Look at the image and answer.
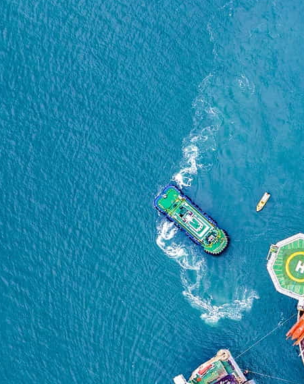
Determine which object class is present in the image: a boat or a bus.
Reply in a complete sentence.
The image shows a boat.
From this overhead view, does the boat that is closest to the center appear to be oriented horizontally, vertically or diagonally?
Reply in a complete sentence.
From this overhead view, the boat that is closest to the center appears to run diagonally.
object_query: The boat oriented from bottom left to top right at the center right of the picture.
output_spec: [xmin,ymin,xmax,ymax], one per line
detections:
[257,193,271,211]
